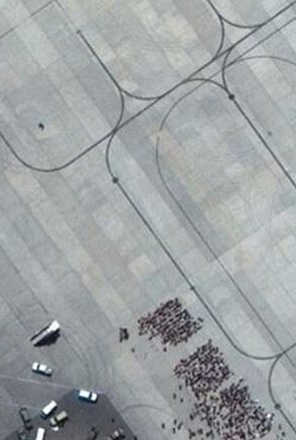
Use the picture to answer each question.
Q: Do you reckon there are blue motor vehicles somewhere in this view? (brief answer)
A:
No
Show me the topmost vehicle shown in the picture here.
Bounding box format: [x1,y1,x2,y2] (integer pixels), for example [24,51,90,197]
[31,363,54,376]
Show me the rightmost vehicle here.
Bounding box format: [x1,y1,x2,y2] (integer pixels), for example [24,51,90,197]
[106,428,126,440]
